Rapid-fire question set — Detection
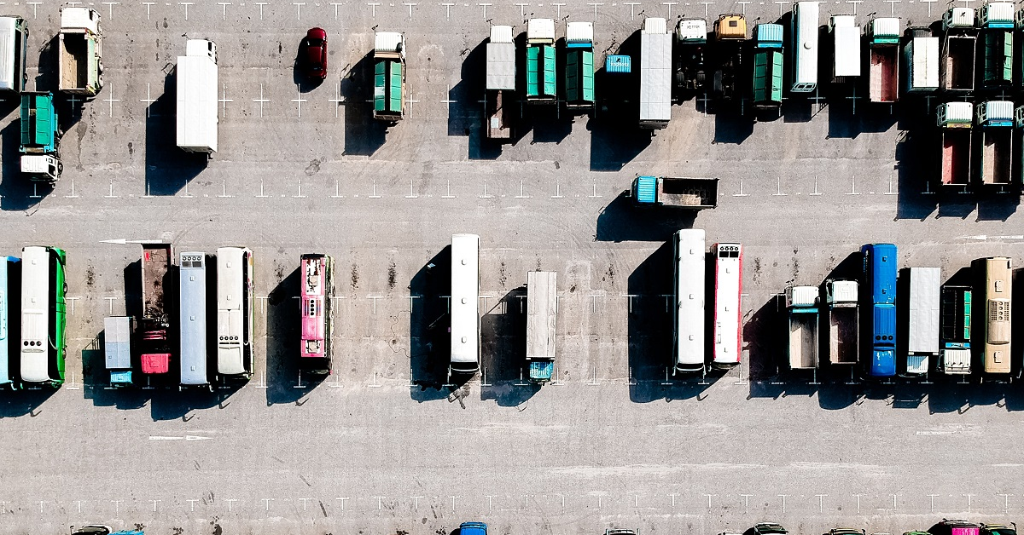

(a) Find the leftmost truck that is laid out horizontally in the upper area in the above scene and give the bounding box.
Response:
[629,173,718,210]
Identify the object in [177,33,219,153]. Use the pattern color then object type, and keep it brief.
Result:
white truck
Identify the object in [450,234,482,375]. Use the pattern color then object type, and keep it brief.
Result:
white bus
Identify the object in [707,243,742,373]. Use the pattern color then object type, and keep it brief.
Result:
white bus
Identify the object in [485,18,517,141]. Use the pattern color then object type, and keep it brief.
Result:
white truck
